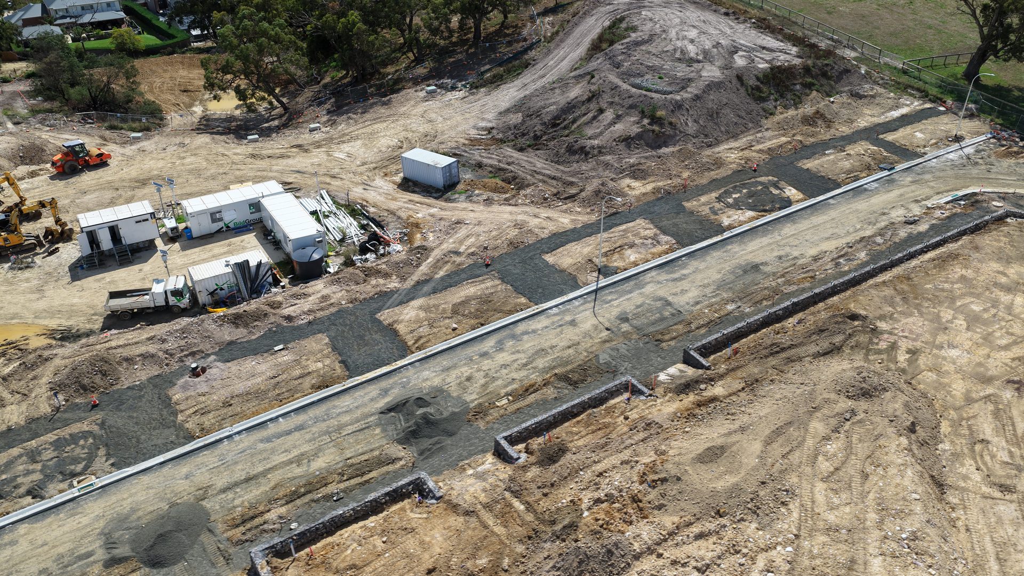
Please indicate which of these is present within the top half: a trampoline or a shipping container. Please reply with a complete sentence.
There is a shipping container within the top half.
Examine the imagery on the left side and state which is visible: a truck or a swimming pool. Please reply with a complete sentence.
There is a truck on the left side.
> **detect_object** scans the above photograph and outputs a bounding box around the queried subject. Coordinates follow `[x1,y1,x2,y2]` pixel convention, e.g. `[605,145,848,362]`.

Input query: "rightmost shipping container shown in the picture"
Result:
[401,148,458,190]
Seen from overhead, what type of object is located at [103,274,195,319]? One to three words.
truck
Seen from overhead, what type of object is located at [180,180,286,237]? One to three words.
building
